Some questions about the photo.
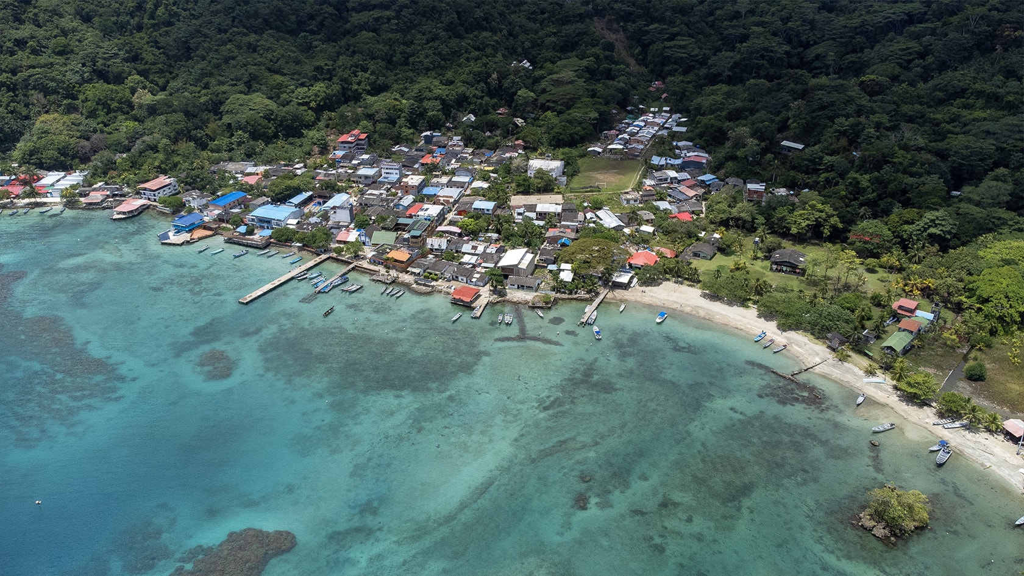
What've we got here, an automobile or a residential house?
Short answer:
residential house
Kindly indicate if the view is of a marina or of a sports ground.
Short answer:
marina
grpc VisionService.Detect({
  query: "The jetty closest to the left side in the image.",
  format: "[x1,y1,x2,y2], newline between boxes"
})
[240,255,330,306]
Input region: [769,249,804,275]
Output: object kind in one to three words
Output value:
house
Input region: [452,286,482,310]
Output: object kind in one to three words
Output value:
house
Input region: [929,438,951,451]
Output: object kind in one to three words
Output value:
boat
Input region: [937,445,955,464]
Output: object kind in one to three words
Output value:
boat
